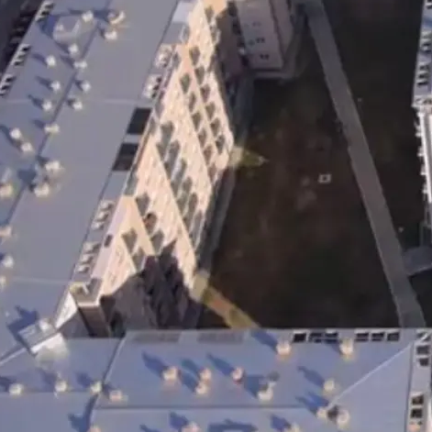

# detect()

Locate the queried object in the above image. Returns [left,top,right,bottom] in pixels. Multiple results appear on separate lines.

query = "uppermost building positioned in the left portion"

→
[0,0,242,335]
